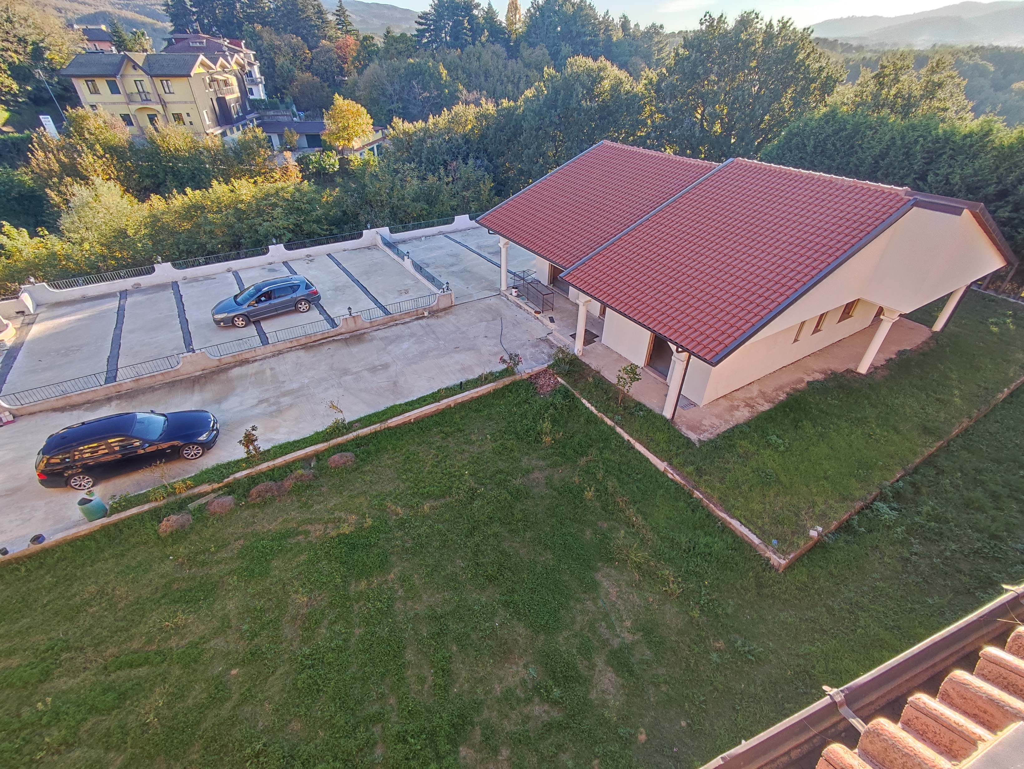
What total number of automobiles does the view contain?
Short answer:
2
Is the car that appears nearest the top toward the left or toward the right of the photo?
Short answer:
left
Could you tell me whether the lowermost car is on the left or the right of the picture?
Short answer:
left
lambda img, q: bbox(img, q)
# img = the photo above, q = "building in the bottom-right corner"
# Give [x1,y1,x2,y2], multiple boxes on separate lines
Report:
[684,579,1024,769]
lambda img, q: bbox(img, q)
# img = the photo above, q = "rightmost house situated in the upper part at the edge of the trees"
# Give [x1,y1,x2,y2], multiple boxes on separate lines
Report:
[470,136,1024,449]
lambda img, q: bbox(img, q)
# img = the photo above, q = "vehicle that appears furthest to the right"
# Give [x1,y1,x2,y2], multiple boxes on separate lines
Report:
[209,277,327,336]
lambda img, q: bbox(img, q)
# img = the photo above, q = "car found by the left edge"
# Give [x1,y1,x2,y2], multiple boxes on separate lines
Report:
[28,407,225,497]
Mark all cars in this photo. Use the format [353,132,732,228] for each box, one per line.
[28,407,225,497]
[209,277,327,336]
